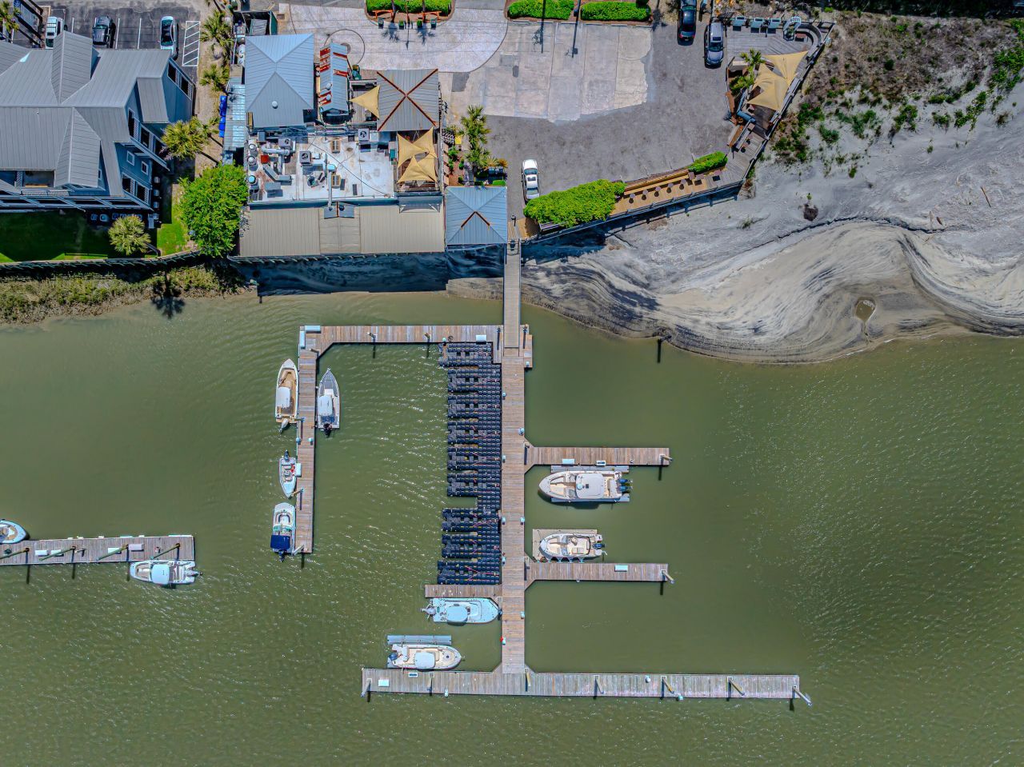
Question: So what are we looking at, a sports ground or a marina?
marina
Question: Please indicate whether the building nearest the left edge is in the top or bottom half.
top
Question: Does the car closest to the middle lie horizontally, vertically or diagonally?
vertically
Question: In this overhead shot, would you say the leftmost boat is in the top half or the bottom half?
bottom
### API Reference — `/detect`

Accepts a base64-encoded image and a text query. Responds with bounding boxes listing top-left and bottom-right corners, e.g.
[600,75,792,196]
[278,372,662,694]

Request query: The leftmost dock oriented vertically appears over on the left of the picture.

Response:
[294,345,319,553]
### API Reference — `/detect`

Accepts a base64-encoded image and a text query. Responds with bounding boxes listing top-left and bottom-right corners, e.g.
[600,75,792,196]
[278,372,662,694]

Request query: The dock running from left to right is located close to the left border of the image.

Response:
[0,536,195,566]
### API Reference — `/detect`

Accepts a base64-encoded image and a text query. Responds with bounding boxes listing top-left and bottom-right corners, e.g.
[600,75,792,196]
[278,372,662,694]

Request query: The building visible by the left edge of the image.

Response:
[0,32,193,219]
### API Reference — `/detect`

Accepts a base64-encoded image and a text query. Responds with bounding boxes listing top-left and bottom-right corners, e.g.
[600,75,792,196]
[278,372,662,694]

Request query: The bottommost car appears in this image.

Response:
[521,159,541,203]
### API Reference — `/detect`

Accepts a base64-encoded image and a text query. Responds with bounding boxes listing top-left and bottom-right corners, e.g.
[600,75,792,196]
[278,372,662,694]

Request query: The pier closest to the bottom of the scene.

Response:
[362,667,800,699]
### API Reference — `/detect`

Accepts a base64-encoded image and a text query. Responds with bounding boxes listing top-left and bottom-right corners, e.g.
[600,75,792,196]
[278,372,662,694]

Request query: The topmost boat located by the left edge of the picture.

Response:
[0,521,32,546]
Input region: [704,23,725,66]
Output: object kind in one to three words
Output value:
car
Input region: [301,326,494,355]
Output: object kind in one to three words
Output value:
pier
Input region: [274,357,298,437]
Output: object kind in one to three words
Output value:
boat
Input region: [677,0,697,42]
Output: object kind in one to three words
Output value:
car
